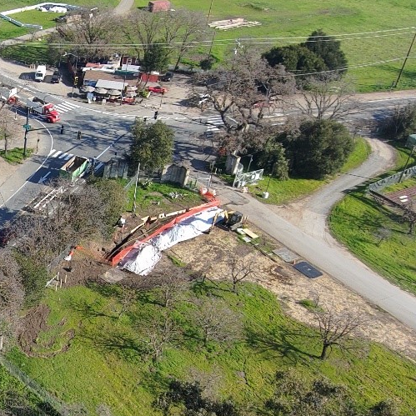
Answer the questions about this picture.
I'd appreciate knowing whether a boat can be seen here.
No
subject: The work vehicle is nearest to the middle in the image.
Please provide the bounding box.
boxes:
[216,206,254,230]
